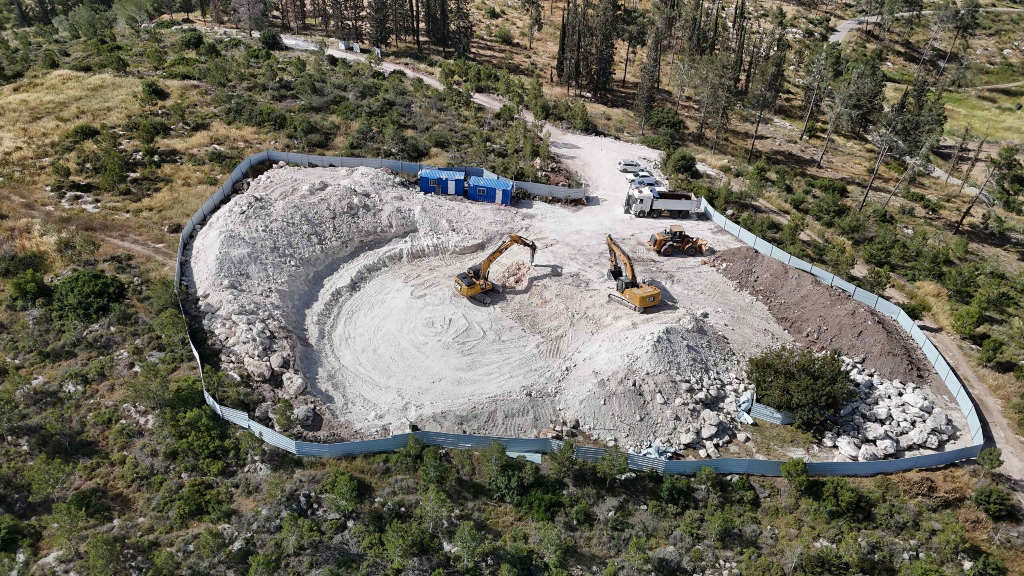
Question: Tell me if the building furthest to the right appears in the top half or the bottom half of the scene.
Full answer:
The building furthest to the right is in the top half of the image.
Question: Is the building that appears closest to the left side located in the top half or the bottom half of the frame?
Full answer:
You can find the building that appears closest to the left side in the top half.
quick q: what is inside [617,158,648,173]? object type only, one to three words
car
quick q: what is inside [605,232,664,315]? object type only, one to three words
work vehicle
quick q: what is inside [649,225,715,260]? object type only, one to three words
work vehicle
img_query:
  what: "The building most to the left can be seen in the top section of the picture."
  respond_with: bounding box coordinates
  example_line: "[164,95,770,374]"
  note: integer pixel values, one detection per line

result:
[417,168,467,197]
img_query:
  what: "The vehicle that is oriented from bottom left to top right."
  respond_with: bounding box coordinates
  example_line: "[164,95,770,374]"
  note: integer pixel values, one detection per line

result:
[453,235,538,306]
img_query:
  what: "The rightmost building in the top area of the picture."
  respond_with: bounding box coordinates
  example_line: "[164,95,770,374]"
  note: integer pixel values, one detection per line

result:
[466,175,516,207]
